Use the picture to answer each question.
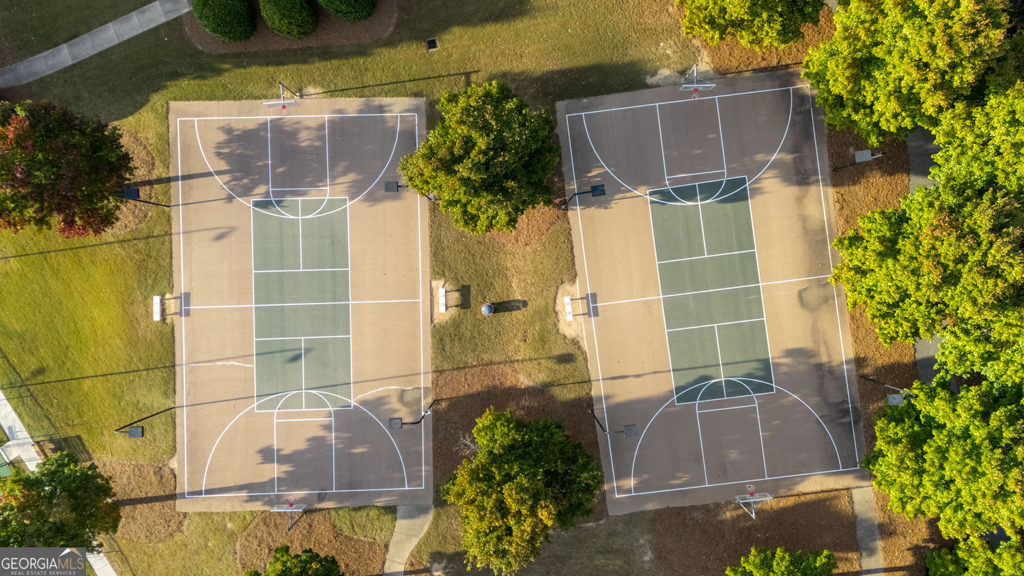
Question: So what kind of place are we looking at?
sports ground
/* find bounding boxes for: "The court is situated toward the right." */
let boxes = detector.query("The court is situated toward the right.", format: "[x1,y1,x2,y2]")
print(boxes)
[556,65,872,515]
